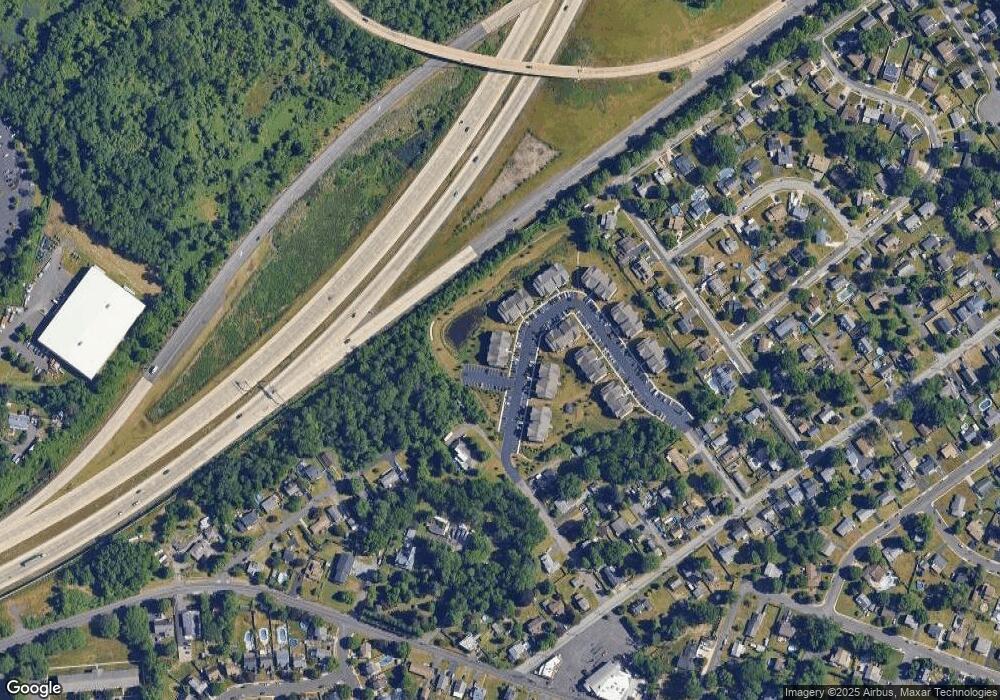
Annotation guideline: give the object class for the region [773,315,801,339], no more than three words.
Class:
house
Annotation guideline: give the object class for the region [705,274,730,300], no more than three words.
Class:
house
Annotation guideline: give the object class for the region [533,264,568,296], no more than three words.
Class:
building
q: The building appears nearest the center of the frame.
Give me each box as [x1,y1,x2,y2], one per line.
[487,332,513,366]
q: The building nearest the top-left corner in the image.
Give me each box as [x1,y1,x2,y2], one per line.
[37,266,146,380]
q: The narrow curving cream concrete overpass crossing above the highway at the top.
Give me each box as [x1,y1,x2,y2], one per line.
[329,0,794,78]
